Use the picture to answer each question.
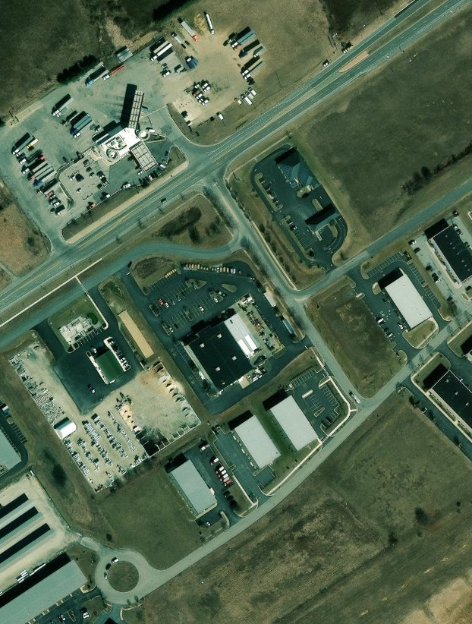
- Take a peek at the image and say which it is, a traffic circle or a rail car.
traffic circle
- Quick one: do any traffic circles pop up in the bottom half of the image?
Yes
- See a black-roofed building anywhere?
Yes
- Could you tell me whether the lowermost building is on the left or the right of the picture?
left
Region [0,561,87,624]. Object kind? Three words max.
building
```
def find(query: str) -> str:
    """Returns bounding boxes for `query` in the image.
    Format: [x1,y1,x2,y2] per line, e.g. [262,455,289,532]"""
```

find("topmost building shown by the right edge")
[429,225,472,285]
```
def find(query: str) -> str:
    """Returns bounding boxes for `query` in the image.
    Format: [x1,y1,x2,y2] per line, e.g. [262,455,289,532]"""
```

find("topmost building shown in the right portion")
[276,148,320,196]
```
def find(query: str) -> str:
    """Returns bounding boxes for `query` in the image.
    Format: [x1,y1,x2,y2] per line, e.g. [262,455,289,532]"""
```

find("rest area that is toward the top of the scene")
[90,128,142,160]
